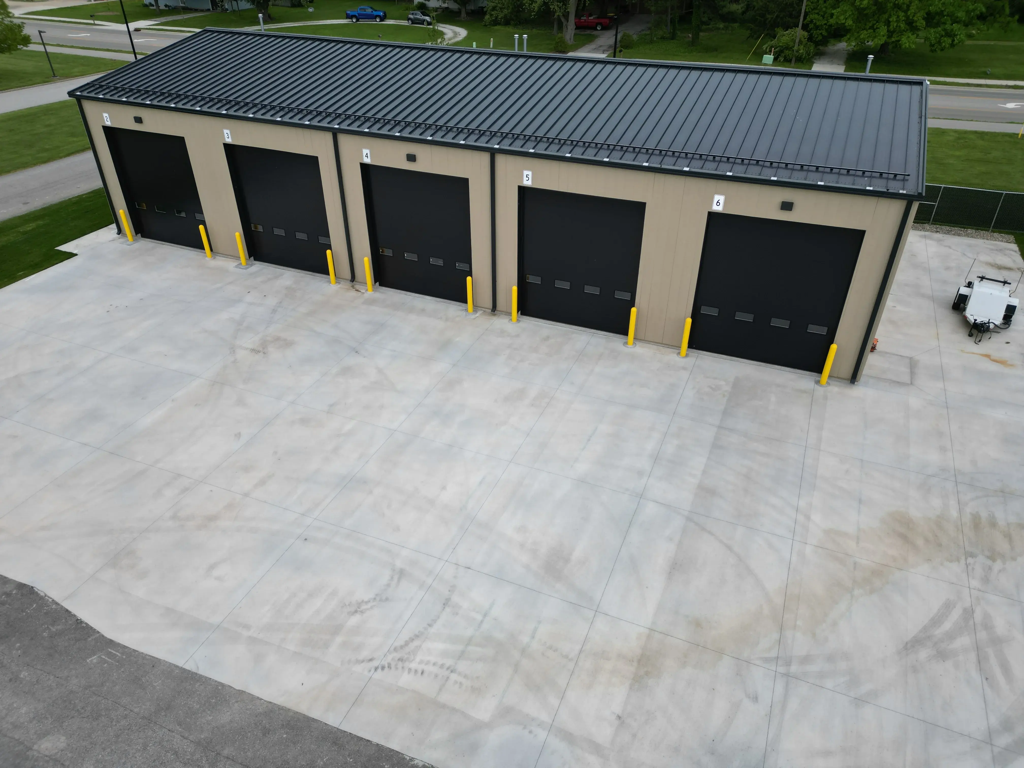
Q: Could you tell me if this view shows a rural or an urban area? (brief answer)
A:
urban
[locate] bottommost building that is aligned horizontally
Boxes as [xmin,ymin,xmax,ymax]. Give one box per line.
[66,14,931,386]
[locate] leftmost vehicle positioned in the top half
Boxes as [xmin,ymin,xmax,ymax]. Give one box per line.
[344,4,390,22]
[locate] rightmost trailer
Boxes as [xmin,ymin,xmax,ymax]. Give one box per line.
[953,254,1024,347]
